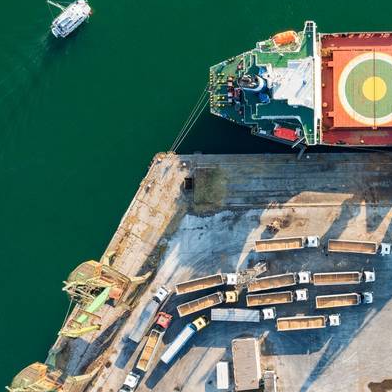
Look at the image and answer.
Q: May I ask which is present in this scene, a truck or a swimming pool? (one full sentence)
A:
This aerial view contains a truck.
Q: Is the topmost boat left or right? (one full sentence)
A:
The topmost boat is on the left side of the image.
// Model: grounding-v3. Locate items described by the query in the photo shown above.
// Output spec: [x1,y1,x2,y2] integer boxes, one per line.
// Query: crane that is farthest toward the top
[57,248,157,336]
